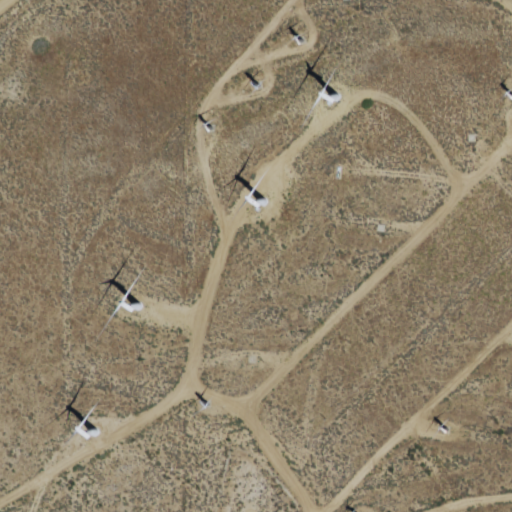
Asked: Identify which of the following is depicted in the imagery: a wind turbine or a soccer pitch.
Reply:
wind turbine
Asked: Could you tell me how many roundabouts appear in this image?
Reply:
0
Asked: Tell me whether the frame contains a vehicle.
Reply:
No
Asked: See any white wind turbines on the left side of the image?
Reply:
Yes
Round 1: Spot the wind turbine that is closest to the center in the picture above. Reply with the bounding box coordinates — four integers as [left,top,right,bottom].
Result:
[228,168,268,214]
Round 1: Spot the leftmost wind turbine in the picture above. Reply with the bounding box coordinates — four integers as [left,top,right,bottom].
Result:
[56,406,100,450]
